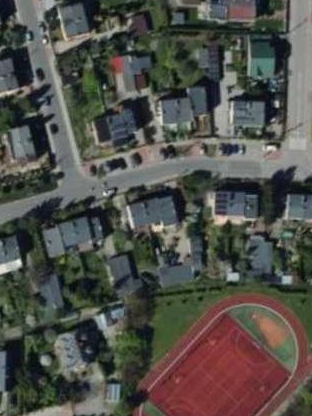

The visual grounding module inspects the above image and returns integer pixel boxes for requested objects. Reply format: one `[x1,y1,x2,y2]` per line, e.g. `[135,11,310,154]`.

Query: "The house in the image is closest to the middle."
[127,196,178,230]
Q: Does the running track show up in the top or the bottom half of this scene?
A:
bottom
